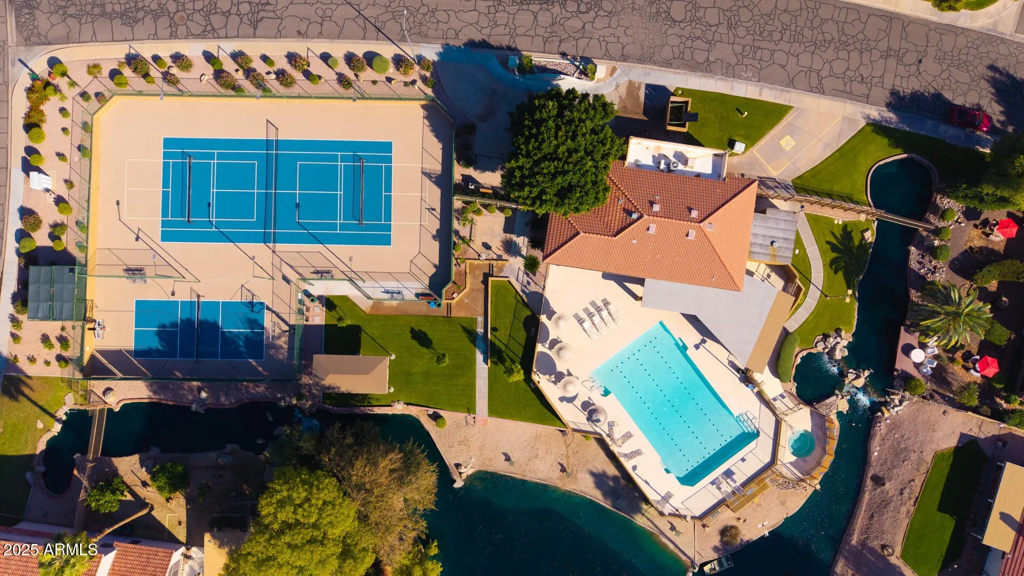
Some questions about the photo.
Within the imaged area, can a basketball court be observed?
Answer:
Yes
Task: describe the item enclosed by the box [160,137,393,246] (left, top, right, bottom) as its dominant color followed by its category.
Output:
blue tennis court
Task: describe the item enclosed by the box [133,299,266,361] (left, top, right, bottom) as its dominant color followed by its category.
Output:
blue sports court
